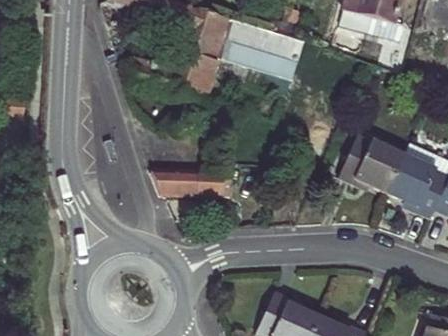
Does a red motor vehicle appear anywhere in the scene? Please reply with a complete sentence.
No, the photo shows no red motor vehicle.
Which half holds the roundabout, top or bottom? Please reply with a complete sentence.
It is in the bottom half that the roundabout appears.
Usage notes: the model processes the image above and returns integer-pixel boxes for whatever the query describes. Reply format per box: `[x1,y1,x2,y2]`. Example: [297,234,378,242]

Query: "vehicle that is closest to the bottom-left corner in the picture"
[75,230,88,264]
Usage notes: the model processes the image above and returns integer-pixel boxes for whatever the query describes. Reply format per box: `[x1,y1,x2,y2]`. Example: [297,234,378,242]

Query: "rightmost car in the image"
[430,218,442,238]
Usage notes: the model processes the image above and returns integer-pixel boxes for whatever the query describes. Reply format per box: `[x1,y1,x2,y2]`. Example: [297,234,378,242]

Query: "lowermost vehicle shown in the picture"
[356,304,371,326]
